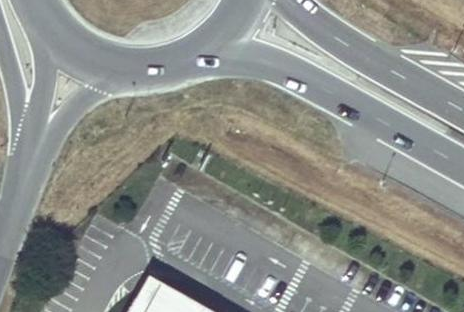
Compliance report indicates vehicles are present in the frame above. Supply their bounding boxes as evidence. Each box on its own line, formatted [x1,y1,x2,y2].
[226,252,248,282]
[364,274,380,294]
[286,80,308,93]
[258,276,276,298]
[344,262,360,282]
[296,0,318,14]
[338,106,360,120]
[401,293,418,312]
[270,282,286,303]
[198,58,218,69]
[376,280,394,302]
[146,66,166,77]
[393,134,414,150]
[388,286,405,307]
